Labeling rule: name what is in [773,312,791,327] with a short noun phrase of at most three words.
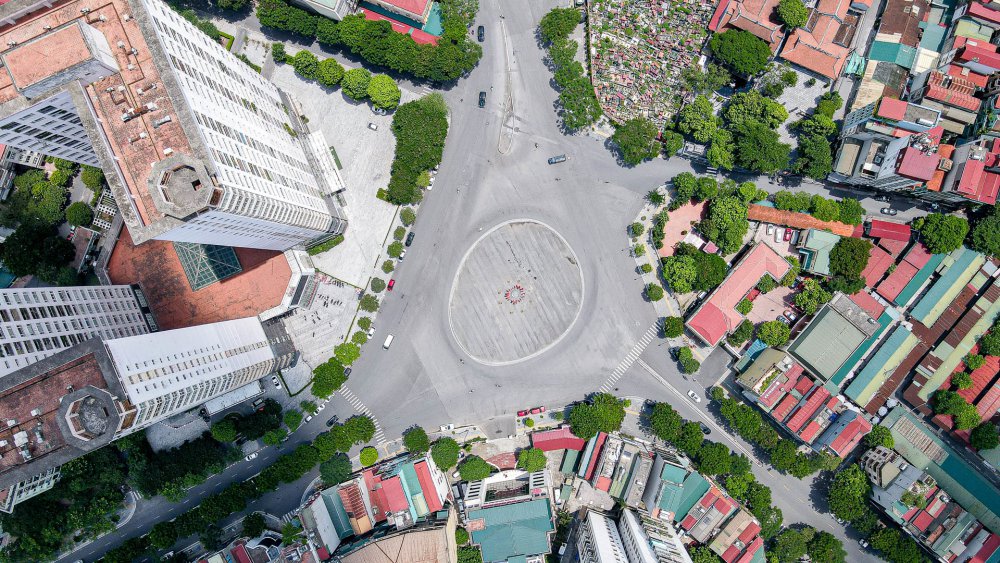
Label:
car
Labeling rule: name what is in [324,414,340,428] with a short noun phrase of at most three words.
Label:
car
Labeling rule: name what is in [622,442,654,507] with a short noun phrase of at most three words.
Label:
house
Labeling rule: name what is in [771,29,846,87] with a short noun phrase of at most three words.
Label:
building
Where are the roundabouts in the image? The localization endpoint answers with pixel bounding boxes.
[449,220,584,365]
